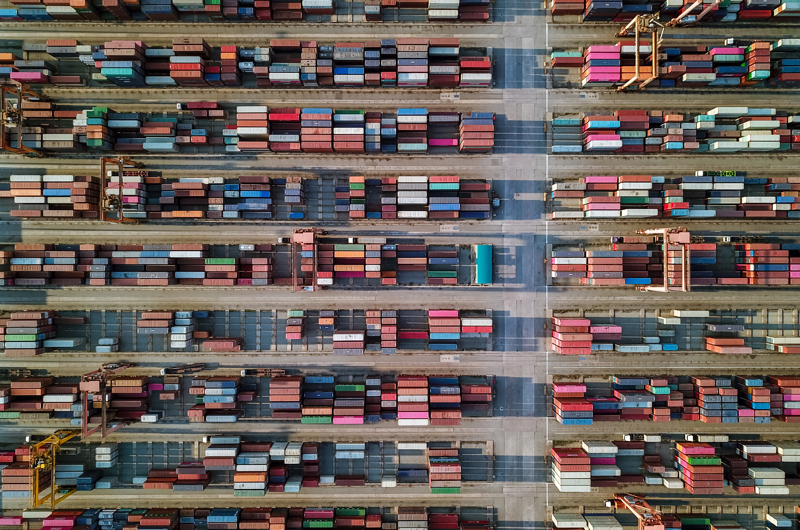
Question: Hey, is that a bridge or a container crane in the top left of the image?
container crane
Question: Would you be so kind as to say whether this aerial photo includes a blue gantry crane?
No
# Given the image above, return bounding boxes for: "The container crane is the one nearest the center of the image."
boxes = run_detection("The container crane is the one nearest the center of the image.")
[292,227,329,294]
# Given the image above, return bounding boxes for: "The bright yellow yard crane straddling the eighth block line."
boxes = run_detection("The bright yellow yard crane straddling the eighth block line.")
[32,427,91,511]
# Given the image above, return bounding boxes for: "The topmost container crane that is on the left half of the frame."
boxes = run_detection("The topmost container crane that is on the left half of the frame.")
[0,81,60,159]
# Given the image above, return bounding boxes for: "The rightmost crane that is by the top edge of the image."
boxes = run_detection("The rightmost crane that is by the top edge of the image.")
[661,0,723,28]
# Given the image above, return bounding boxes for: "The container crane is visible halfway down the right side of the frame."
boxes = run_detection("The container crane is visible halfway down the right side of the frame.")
[634,227,691,294]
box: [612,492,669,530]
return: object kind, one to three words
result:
container crane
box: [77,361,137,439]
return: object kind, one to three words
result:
container crane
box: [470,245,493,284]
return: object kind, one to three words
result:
shed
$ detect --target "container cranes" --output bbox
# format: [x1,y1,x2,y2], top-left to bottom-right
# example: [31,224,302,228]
[608,9,664,94]
[77,361,137,439]
[292,227,329,294]
[100,154,152,225]
[661,0,723,28]
[612,492,669,530]
[634,227,691,294]
[32,427,91,511]
[0,81,60,159]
